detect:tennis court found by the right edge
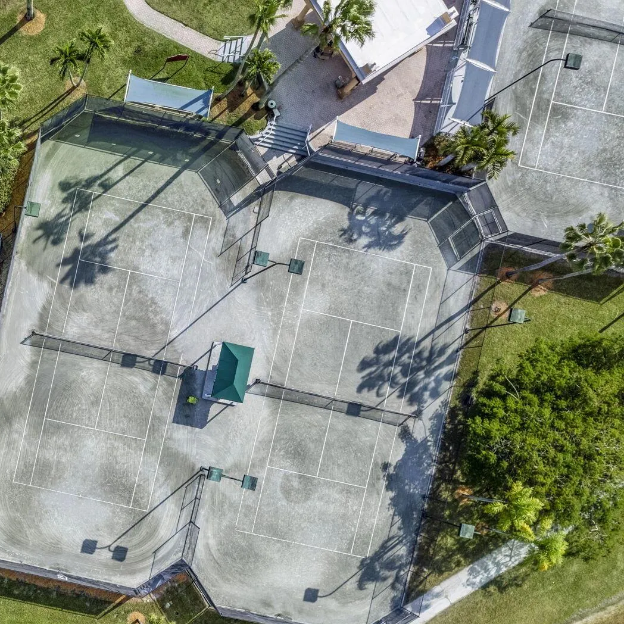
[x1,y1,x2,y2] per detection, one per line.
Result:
[468,0,624,256]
